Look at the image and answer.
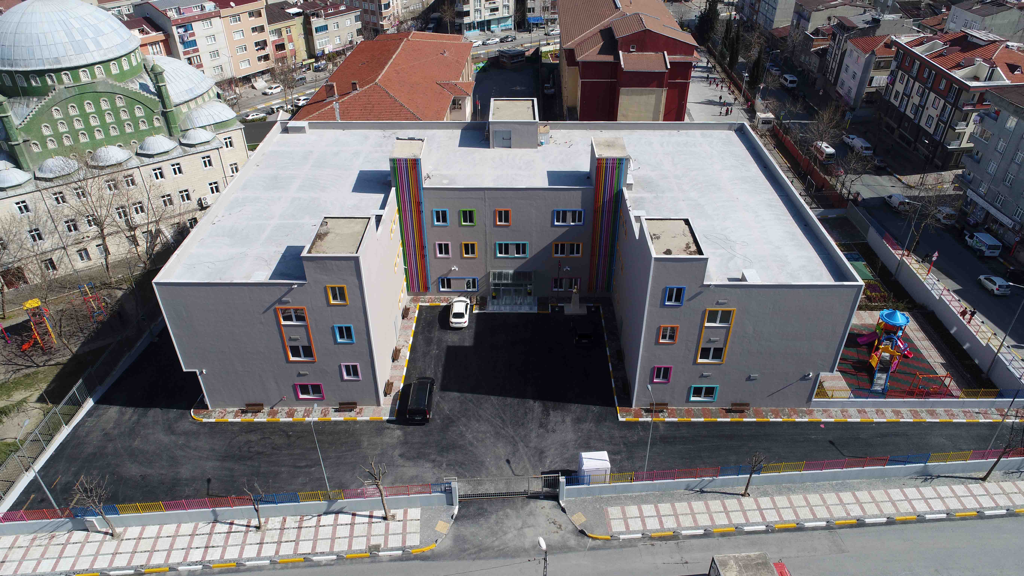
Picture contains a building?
Yes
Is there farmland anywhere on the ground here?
No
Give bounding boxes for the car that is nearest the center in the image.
[451,295,472,322]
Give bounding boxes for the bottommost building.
[577,447,611,481]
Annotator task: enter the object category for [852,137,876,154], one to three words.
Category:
vehicle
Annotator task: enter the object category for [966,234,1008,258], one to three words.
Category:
vehicle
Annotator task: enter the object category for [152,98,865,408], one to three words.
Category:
building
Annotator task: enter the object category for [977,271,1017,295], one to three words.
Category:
car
